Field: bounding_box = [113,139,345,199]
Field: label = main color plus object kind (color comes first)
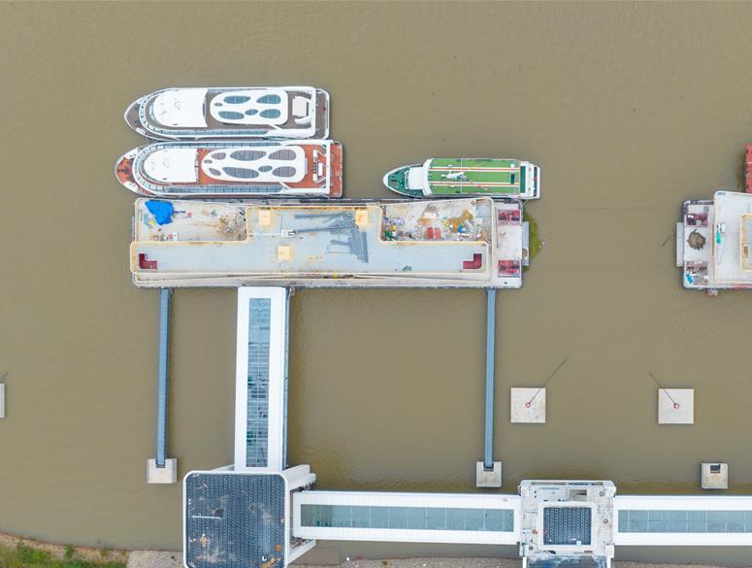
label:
white ship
